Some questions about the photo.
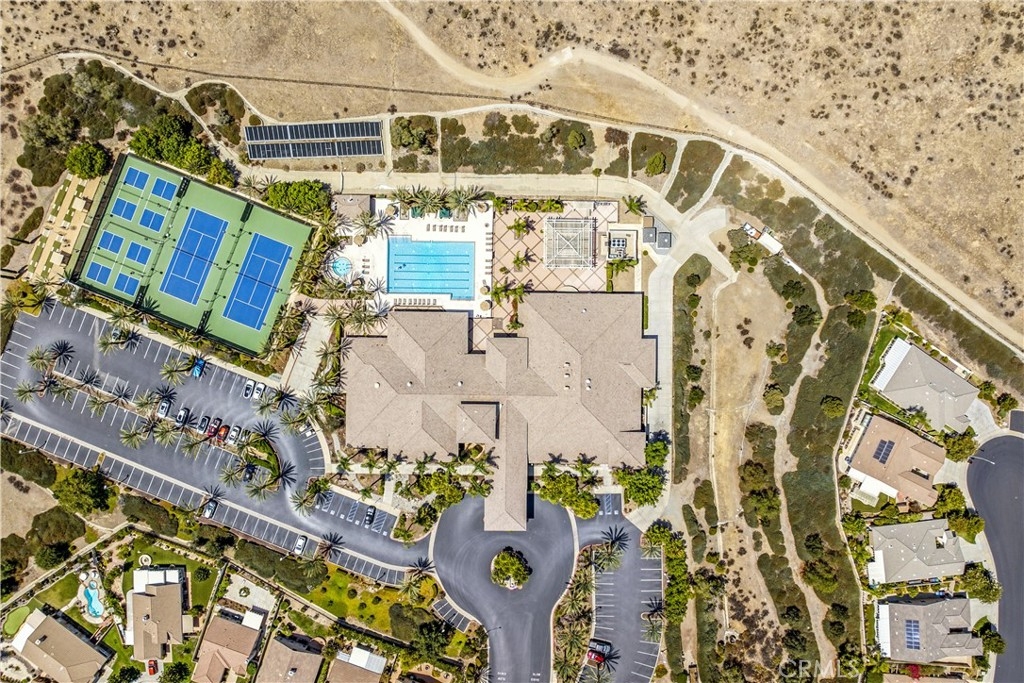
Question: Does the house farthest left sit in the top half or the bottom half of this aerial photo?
bottom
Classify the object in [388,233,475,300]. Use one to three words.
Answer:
swimming pool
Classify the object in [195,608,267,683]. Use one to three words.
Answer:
house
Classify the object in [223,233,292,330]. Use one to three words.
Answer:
tennis court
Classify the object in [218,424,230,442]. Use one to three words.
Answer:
vehicle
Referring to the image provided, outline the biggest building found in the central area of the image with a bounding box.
[346,292,657,531]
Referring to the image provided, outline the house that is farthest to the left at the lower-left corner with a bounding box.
[11,606,123,683]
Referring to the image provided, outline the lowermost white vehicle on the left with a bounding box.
[295,536,307,554]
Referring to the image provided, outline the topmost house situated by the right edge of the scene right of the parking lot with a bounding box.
[869,338,980,435]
